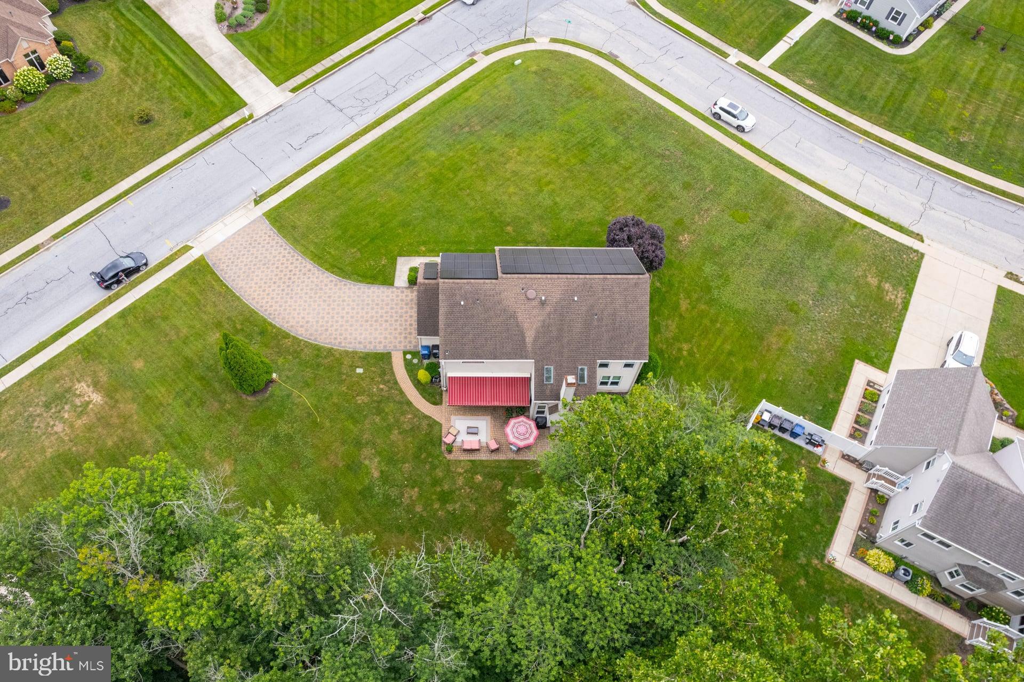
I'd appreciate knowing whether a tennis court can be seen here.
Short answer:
No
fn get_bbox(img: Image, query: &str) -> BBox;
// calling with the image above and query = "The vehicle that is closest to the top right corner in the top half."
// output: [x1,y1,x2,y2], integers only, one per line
[711,95,759,133]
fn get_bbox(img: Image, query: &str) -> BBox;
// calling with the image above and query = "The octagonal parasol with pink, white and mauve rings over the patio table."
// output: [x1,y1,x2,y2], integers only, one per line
[505,415,539,447]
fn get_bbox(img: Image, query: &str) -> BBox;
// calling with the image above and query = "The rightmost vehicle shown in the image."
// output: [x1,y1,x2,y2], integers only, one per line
[939,328,978,369]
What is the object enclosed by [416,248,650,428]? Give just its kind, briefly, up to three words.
house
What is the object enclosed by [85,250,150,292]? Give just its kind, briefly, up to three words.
car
